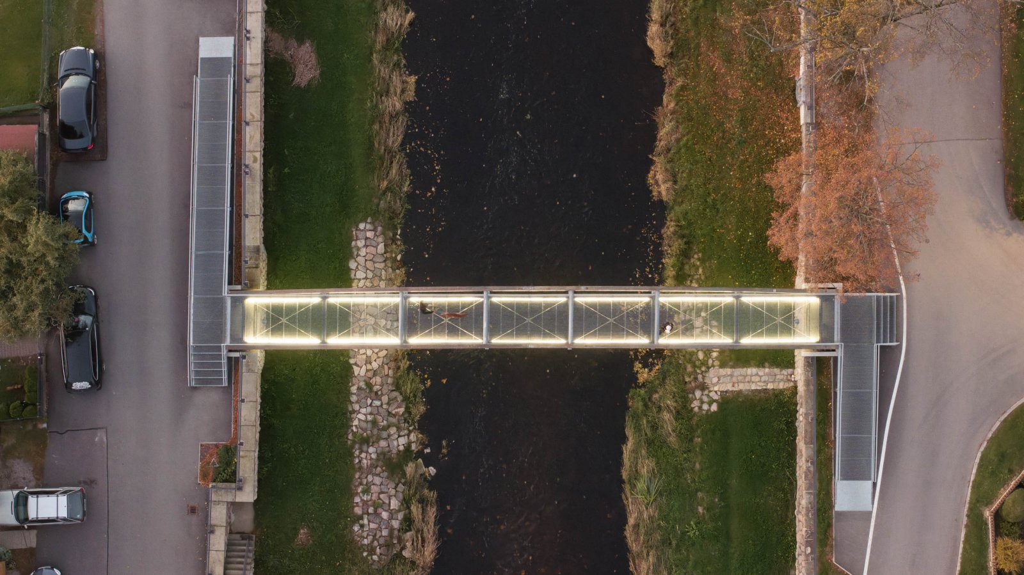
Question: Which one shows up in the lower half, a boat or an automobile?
automobile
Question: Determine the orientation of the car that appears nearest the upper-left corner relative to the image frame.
vertically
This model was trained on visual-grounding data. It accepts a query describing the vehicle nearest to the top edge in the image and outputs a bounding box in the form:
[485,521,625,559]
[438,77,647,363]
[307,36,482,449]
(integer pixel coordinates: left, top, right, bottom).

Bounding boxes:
[50,46,99,149]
